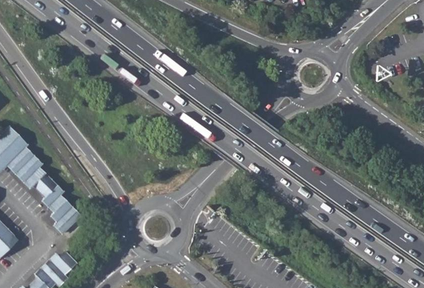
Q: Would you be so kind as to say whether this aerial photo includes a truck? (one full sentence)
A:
Yes, there's a truck here.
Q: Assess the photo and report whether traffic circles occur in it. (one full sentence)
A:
Yes, a traffic circle can be made out from above.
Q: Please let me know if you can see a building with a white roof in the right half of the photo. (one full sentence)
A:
No, in the right half of the photo there is no building with a white roof.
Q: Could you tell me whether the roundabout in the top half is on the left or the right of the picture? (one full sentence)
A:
The roundabout in the top half appears in the right half of the scene.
